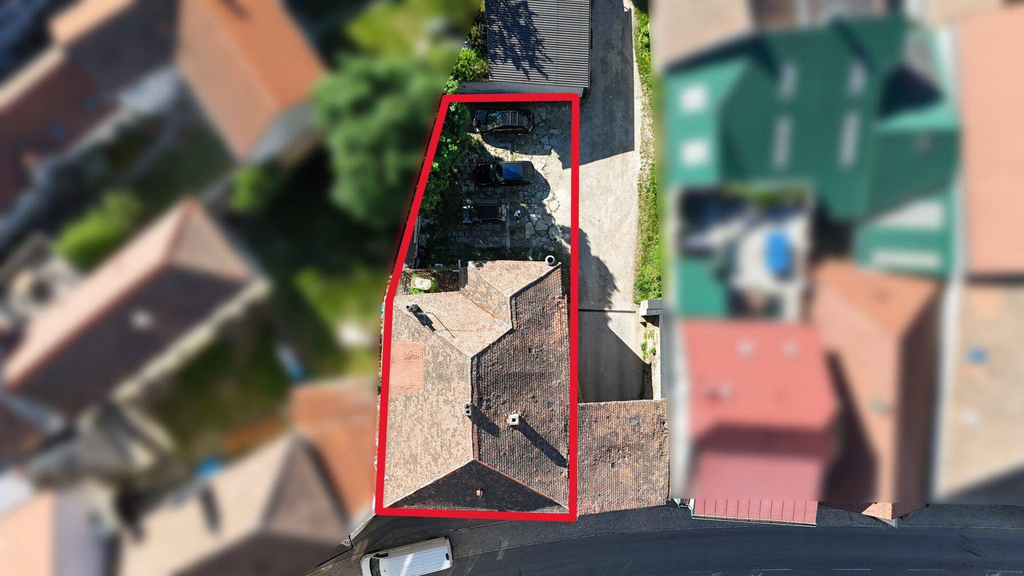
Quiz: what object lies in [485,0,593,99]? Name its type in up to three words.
shed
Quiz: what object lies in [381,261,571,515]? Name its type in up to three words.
house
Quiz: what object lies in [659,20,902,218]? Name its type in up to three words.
building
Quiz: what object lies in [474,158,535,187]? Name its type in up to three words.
car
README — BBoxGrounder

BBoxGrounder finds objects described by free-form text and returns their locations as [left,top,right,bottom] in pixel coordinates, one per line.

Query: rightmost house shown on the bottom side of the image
[931,283,1024,499]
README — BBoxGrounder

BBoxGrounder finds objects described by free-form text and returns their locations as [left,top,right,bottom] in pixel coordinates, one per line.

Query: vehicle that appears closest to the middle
[461,200,509,226]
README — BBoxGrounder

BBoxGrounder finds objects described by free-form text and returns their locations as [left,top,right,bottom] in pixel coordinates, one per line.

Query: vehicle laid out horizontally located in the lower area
[368,538,454,576]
